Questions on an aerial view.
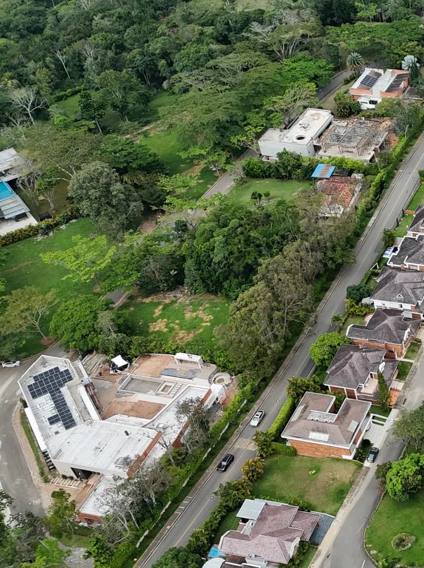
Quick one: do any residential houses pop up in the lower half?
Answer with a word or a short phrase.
Yes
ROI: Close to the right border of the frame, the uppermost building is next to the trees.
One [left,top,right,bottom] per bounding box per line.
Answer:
[349,67,411,112]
